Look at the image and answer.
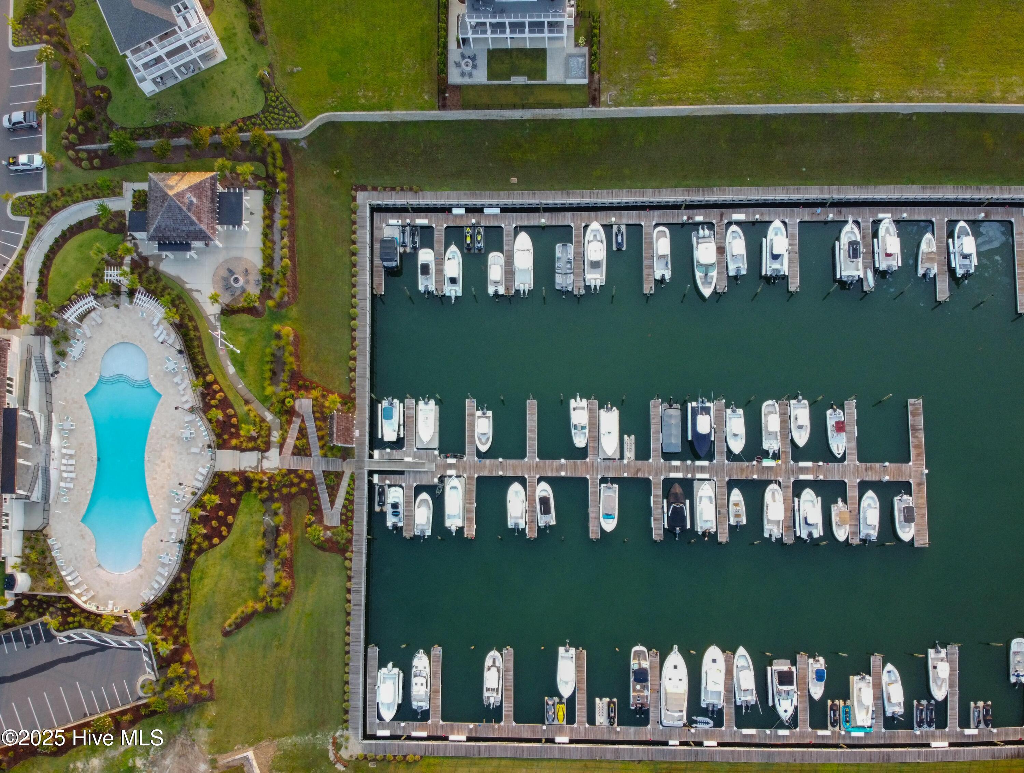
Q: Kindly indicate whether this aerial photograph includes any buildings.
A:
Yes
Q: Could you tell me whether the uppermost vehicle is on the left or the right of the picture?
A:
left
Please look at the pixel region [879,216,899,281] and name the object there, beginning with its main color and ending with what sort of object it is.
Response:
white boat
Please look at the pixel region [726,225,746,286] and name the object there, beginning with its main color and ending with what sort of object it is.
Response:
white boat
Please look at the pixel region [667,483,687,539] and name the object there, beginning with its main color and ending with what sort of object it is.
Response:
black boat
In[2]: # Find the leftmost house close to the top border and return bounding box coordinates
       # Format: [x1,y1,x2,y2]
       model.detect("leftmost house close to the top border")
[94,0,230,97]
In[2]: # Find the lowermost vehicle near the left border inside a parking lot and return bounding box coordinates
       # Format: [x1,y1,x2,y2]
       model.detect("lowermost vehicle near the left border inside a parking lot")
[1,152,44,171]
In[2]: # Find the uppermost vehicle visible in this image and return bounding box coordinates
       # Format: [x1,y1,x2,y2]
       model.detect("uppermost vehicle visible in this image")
[2,110,37,130]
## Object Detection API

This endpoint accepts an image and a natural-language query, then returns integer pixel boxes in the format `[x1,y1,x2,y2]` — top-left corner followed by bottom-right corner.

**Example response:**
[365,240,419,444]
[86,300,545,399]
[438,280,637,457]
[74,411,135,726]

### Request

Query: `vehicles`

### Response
[2,110,37,130]
[1,152,44,171]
